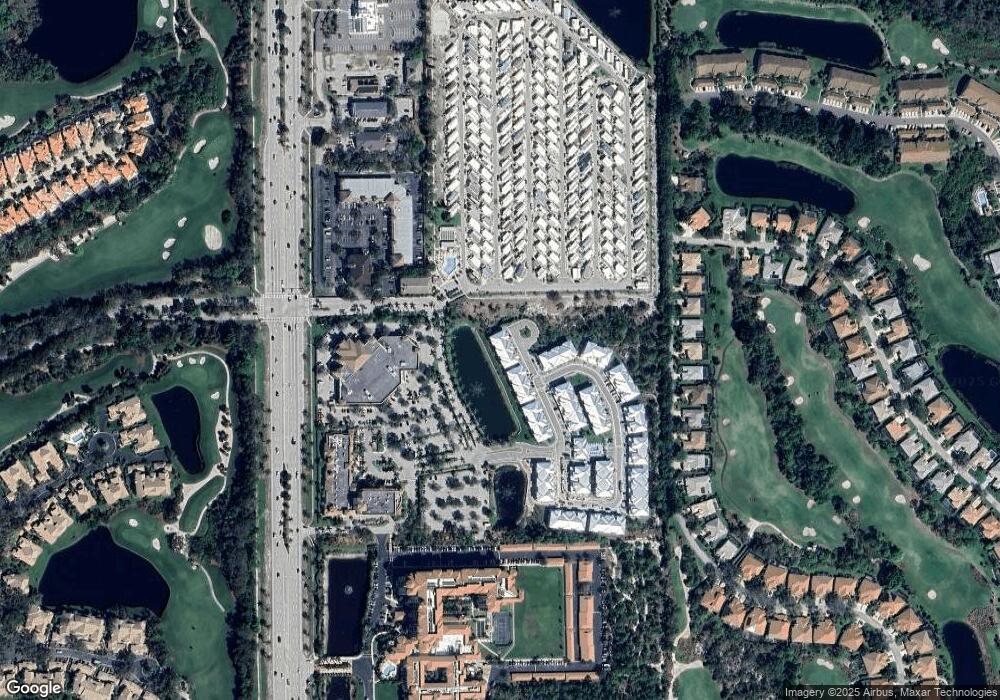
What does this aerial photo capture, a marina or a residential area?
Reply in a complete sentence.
This image shows a residential area.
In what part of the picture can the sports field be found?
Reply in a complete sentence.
The sports field is located in the bottom region of the scene.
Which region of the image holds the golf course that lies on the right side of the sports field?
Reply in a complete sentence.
You can find the golf course that lies on the right side of the sports field in the right area of the picture.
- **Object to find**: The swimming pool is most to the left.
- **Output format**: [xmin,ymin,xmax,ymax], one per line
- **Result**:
[66,428,88,444]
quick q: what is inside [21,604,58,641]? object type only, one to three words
house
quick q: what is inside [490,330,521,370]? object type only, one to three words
building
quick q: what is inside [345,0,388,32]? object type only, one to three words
building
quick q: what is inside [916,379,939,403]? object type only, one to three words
house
